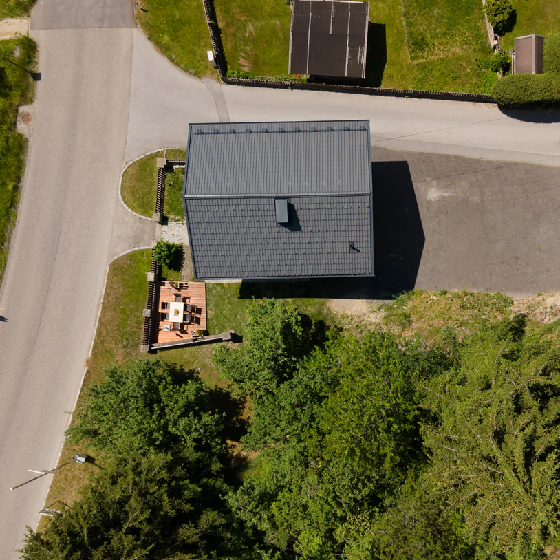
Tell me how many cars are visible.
zero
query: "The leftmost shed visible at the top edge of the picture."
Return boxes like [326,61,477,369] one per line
[288,0,368,86]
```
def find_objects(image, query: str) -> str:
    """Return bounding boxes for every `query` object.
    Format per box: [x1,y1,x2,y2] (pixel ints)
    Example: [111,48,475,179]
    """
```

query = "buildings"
[288,0,368,86]
[180,117,374,282]
[508,35,544,77]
